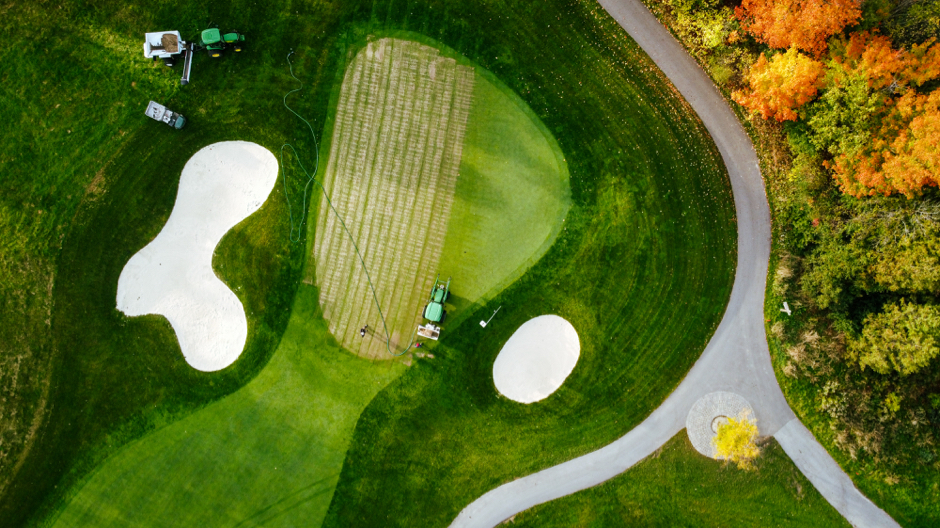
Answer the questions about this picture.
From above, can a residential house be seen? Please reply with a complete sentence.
No, I can see no residential house in this picture.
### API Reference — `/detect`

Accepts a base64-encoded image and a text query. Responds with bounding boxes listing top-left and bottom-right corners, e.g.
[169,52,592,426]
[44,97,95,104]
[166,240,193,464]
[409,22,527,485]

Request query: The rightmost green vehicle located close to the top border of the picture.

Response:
[196,26,248,58]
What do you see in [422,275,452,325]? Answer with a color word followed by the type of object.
green work vehicle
